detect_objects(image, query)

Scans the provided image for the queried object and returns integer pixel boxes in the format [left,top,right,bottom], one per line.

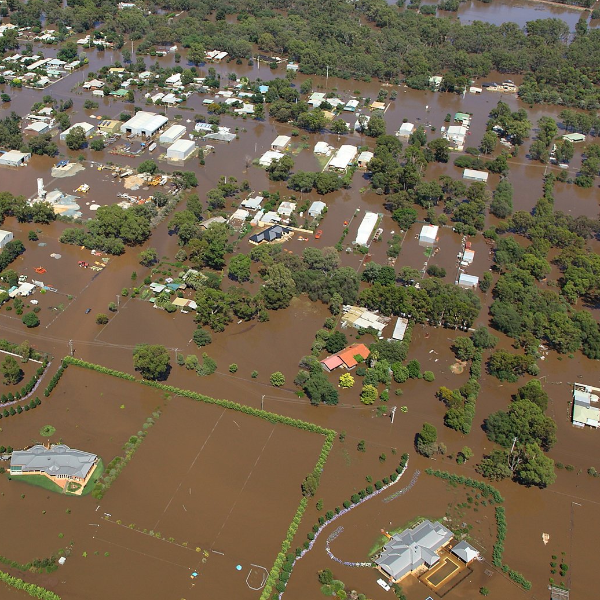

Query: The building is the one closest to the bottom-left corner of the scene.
[9,443,97,495]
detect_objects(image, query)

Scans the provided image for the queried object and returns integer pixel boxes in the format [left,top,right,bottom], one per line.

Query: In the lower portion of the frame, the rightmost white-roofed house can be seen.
[566,389,600,429]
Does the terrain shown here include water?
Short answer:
Yes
